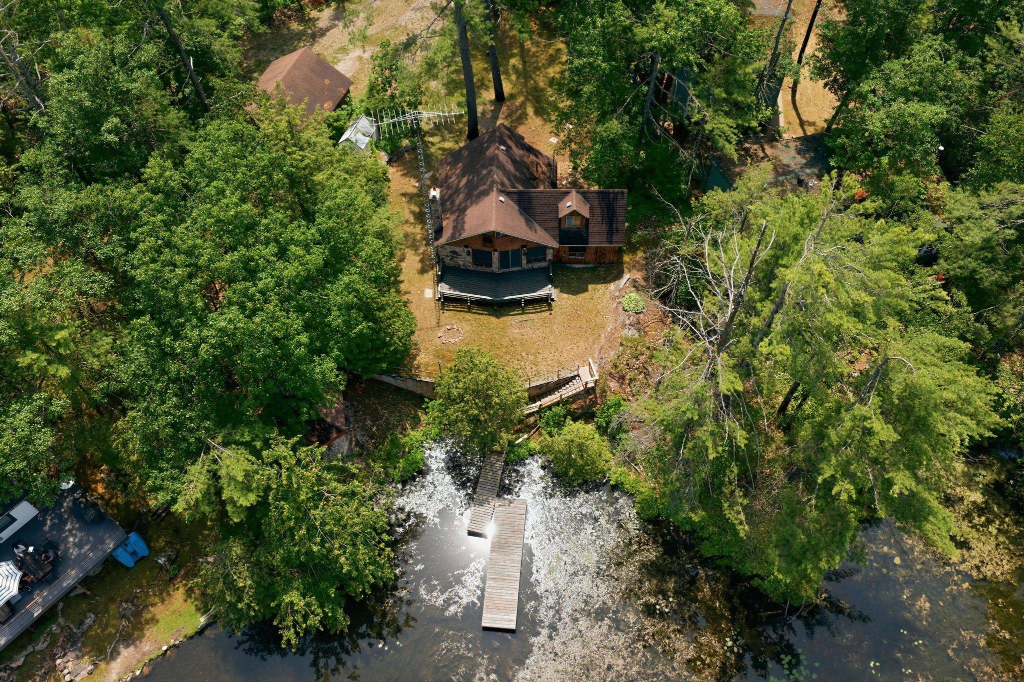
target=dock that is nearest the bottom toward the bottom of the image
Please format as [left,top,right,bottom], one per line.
[482,499,527,632]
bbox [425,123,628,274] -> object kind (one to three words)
building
